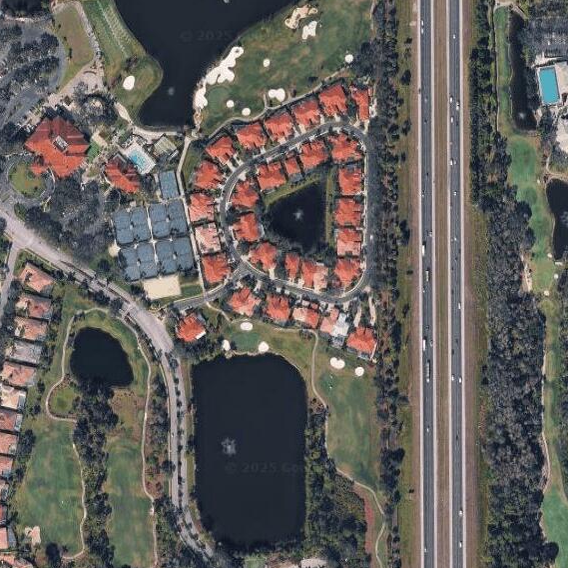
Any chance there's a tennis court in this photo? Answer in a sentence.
Yes, I can see a tennis court in this picture.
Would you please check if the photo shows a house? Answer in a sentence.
Yes, the photo shows a house.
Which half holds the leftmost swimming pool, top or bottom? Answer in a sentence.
The leftmost swimming pool sits in the top half of the picture.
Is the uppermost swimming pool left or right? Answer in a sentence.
The uppermost swimming pool is on the right side of the image.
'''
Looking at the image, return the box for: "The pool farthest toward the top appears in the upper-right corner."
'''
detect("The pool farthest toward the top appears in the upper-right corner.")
[536,62,568,108]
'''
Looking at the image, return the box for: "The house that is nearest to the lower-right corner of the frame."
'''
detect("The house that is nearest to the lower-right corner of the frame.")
[345,328,380,361]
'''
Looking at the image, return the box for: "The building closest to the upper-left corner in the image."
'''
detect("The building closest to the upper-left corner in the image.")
[20,113,92,178]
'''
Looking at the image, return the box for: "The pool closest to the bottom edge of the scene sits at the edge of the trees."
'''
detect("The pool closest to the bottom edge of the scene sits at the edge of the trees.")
[124,142,154,174]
